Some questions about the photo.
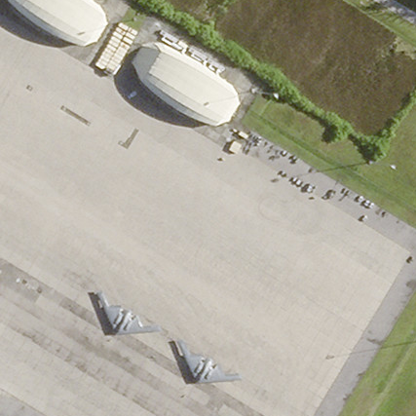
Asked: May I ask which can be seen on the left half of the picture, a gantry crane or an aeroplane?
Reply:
aeroplane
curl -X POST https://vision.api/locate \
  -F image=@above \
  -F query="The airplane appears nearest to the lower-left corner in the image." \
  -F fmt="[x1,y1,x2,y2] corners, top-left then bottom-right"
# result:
[99,294,161,334]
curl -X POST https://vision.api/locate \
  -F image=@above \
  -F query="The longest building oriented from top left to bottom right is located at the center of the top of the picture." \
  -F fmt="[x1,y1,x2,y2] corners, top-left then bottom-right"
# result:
[132,41,241,125]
